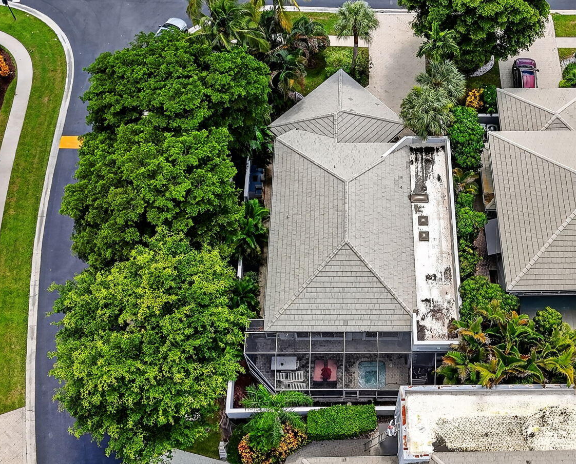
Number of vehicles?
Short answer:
2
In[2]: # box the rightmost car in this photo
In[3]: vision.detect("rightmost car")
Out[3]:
[510,59,539,87]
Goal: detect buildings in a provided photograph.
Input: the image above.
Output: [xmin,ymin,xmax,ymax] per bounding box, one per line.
[478,86,576,310]
[260,68,460,363]
[299,385,576,464]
